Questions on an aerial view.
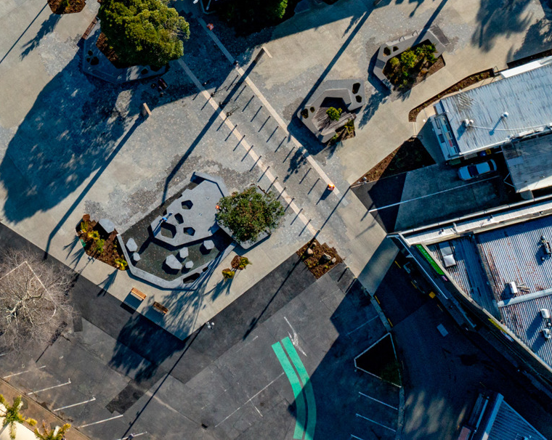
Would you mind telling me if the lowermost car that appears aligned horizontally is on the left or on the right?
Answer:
right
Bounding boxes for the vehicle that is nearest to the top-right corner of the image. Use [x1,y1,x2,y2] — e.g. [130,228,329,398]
[455,158,500,181]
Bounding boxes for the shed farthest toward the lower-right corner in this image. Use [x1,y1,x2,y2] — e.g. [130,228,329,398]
[458,390,552,440]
